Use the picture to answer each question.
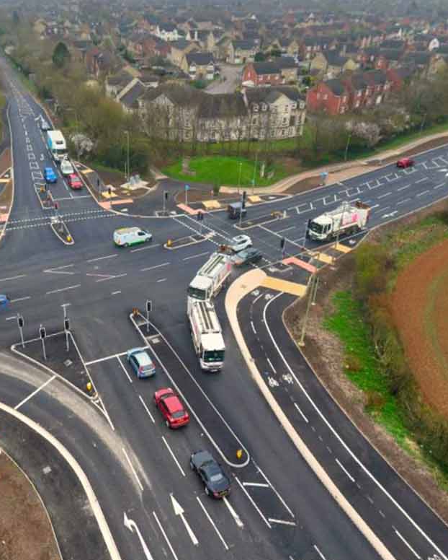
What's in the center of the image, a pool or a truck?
truck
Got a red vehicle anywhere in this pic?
Yes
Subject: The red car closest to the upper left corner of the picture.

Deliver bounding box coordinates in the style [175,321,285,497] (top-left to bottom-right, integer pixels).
[69,174,81,187]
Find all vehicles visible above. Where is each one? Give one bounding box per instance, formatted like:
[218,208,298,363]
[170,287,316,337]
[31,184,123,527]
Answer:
[310,204,367,242]
[189,246,233,300]
[69,174,81,187]
[223,202,248,220]
[233,248,263,265]
[189,452,234,504]
[226,234,256,252]
[61,160,73,174]
[115,228,149,246]
[46,130,65,160]
[154,391,190,430]
[39,118,48,128]
[45,168,57,180]
[188,290,226,363]
[395,157,414,168]
[126,349,154,379]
